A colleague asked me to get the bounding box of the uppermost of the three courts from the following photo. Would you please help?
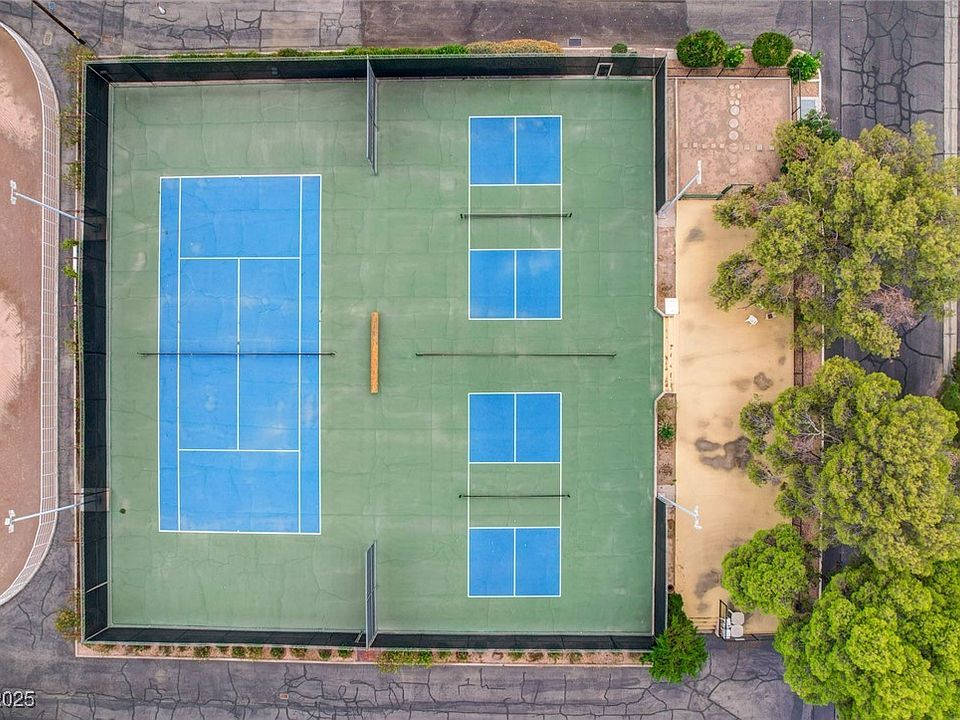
[469,114,562,321]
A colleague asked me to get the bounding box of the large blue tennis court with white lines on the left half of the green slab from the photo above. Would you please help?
[158,174,321,534]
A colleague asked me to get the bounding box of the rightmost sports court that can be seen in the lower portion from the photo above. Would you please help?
[468,392,562,599]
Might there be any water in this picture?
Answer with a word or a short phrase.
No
